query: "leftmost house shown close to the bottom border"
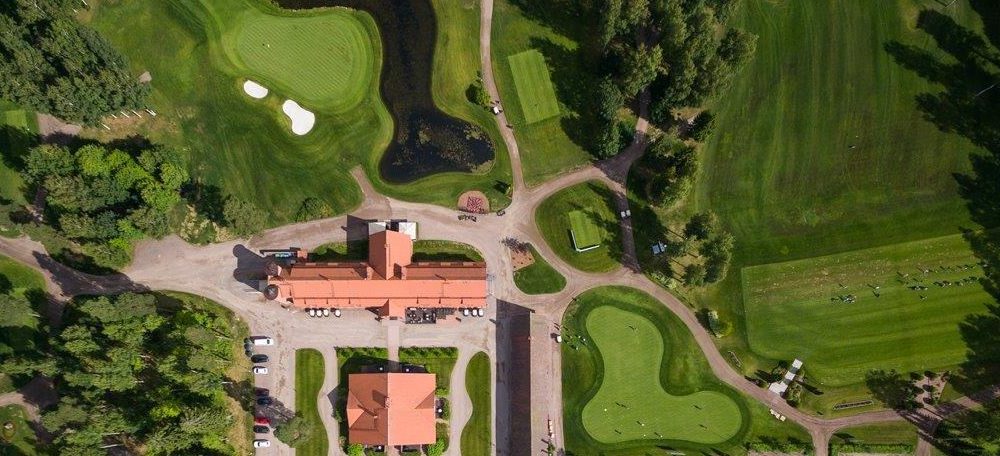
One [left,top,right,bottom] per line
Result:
[347,374,438,447]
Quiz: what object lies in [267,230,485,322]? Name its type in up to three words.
building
